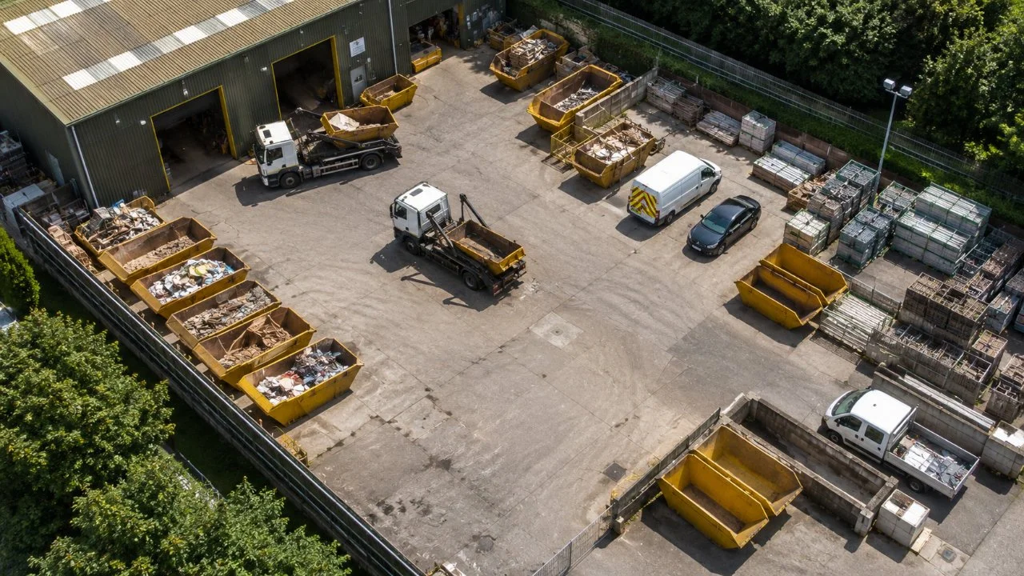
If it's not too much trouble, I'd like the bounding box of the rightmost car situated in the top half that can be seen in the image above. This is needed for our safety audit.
[683,194,763,257]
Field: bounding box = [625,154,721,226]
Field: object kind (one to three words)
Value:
van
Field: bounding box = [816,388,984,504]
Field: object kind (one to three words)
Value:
truck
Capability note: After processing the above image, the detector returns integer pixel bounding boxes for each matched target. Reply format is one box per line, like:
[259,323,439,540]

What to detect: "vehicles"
[385,180,530,300]
[683,194,763,257]
[625,154,721,226]
[245,109,406,187]
[816,388,984,504]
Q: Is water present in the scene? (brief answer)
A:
No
